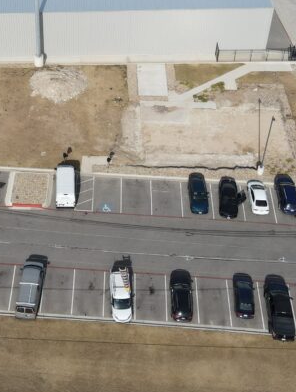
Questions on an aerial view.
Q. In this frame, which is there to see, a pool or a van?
van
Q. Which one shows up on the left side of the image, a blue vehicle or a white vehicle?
white vehicle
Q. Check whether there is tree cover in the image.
No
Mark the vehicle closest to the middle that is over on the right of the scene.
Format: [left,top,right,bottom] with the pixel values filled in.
[188,174,211,214]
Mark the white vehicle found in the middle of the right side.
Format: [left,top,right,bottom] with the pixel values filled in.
[245,177,269,215]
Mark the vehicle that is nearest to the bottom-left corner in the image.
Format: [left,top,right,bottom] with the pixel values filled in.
[17,260,46,317]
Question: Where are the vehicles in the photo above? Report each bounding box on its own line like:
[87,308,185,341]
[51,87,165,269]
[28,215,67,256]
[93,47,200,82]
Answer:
[274,175,296,215]
[229,271,255,318]
[188,174,211,214]
[262,278,296,341]
[55,163,79,208]
[245,177,269,215]
[17,260,46,317]
[110,264,136,322]
[217,178,247,218]
[168,272,194,321]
